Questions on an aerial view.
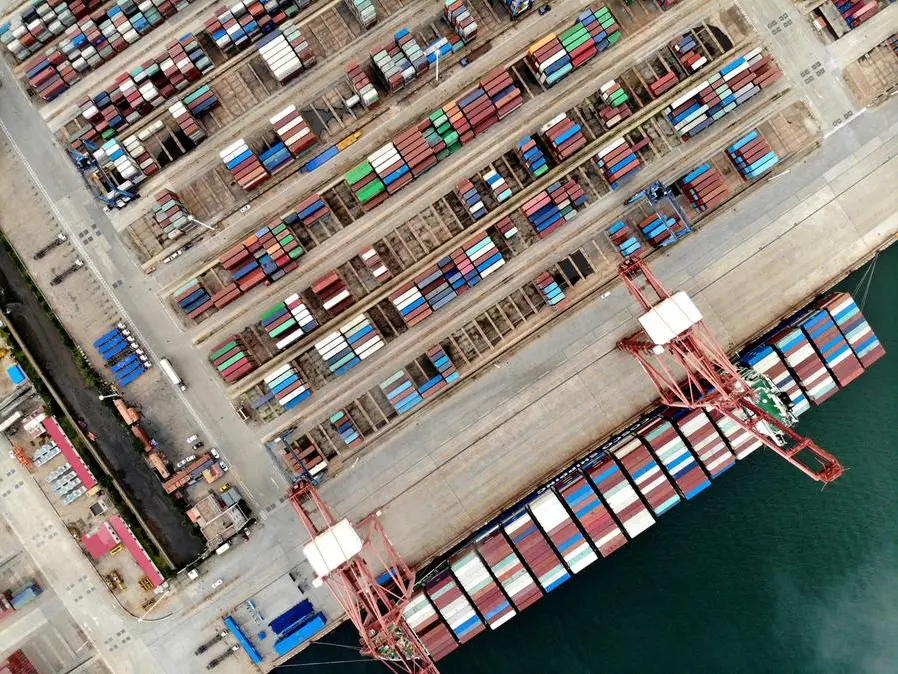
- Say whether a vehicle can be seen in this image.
Yes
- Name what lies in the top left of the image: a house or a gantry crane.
gantry crane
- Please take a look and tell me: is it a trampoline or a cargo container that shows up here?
cargo container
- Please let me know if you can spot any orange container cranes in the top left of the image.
No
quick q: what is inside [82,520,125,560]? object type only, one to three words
house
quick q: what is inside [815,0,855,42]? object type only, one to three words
building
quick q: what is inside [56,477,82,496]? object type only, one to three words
vehicle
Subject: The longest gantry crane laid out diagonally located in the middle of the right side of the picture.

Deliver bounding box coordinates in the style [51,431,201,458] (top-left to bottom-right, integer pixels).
[610,248,856,486]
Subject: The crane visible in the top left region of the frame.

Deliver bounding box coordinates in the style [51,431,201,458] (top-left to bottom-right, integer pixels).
[56,133,133,206]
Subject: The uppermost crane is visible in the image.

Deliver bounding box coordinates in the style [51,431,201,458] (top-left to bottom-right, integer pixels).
[490,0,527,38]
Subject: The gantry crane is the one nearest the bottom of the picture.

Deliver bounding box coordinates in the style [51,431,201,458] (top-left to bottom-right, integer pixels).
[277,474,438,674]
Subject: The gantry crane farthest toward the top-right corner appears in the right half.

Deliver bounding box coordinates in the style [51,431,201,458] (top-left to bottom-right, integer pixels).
[627,182,695,251]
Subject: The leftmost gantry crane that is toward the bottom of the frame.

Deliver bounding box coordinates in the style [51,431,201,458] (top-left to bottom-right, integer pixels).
[263,428,326,497]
